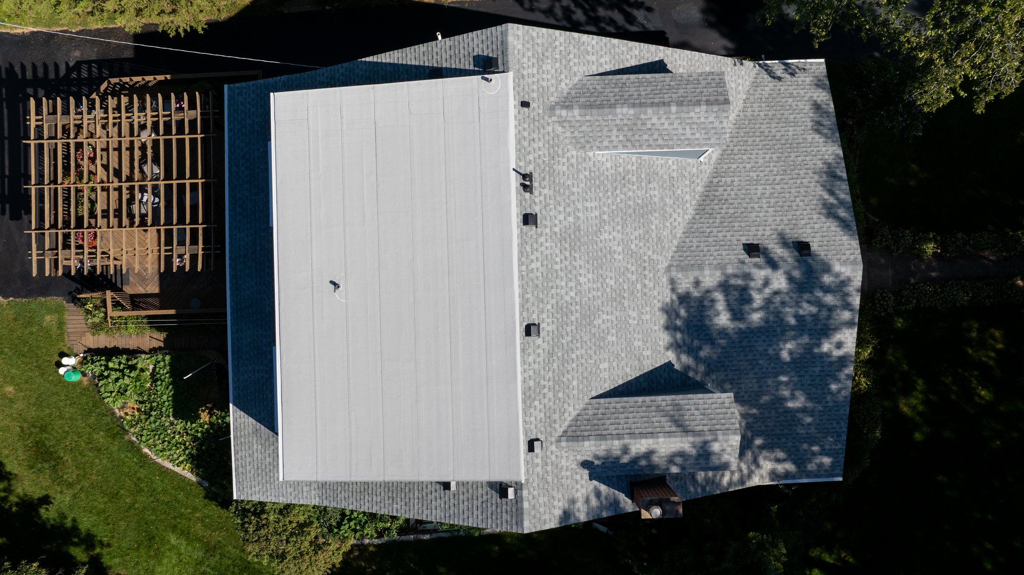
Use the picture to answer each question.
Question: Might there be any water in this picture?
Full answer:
No, no water is visible.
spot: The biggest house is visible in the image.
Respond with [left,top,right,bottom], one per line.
[221,23,861,533]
